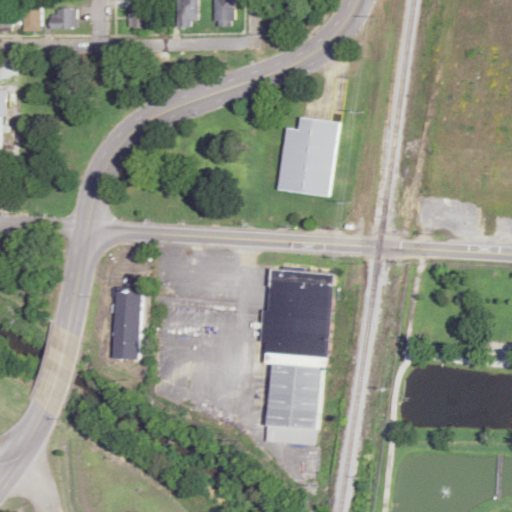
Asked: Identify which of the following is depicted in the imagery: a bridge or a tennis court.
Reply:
bridge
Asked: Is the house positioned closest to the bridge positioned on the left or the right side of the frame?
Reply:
left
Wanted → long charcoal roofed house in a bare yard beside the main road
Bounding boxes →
[110,288,146,361]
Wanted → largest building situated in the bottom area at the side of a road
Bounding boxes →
[262,266,333,448]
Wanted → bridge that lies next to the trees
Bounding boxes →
[22,321,85,426]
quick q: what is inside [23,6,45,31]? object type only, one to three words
house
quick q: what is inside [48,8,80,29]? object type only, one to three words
house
